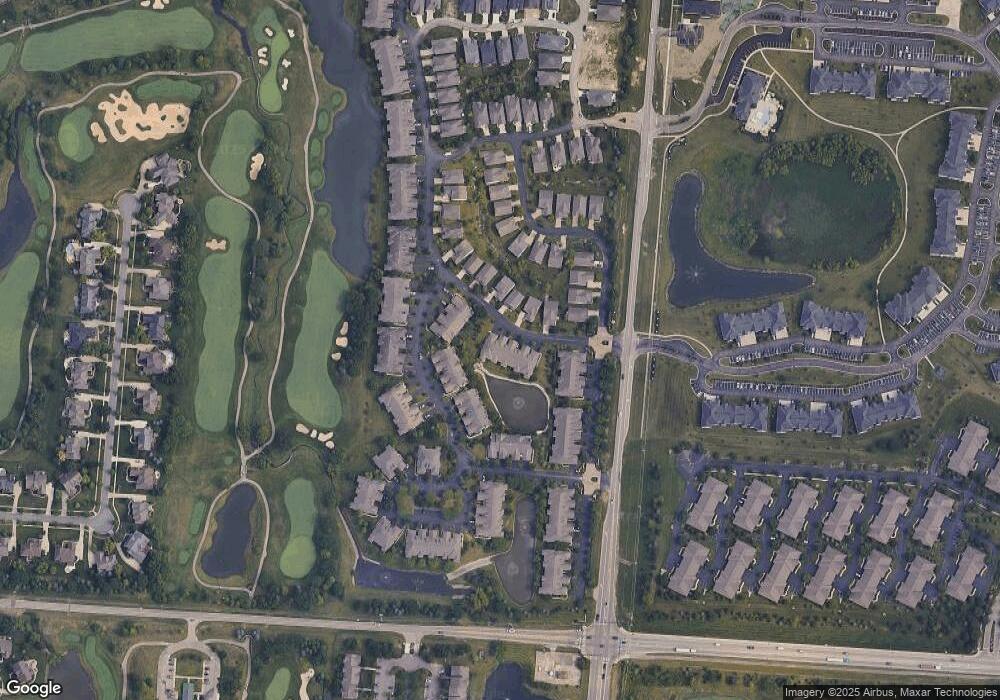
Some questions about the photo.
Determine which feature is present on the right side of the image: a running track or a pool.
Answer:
pool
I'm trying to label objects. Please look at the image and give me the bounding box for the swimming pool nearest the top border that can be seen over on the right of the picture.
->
[745,92,782,136]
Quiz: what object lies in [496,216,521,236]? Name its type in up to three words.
house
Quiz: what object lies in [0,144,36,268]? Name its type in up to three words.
pond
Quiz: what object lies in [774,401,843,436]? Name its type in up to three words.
building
